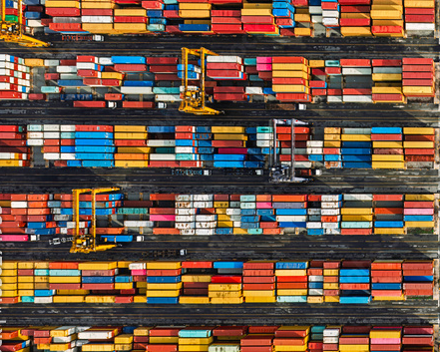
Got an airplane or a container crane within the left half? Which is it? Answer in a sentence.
Looking within the left half, you will find a container crane.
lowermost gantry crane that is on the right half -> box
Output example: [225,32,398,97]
[269,118,310,185]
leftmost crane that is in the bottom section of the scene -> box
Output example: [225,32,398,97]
[71,187,124,254]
